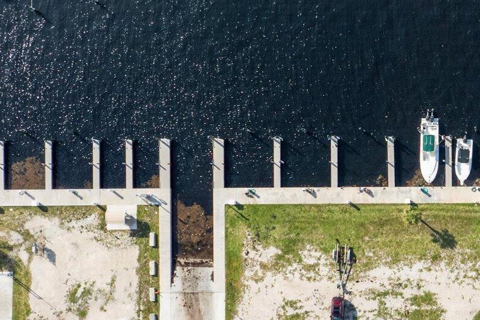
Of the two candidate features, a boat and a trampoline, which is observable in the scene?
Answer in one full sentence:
Of the two, only a boat appears.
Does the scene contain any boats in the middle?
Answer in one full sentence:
No, there's no boat to be seen in the middle.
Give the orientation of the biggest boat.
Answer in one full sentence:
In this picture, the biggest boat lies from top to bottom.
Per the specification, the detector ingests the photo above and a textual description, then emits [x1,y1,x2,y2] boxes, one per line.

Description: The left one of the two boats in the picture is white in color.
[419,109,441,184]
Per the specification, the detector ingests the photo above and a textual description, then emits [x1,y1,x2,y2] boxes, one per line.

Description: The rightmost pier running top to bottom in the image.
[442,136,455,187]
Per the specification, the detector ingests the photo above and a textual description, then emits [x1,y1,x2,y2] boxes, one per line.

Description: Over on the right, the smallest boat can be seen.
[454,133,473,184]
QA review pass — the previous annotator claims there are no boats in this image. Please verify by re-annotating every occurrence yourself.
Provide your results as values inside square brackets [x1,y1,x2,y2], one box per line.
[419,109,441,184]
[454,133,473,184]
